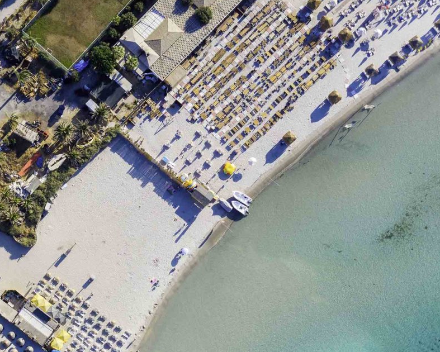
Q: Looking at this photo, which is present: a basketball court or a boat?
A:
boat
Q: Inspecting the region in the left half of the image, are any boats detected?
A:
Yes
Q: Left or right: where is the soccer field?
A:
left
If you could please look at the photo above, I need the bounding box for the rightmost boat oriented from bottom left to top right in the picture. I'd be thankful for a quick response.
[51,153,66,169]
